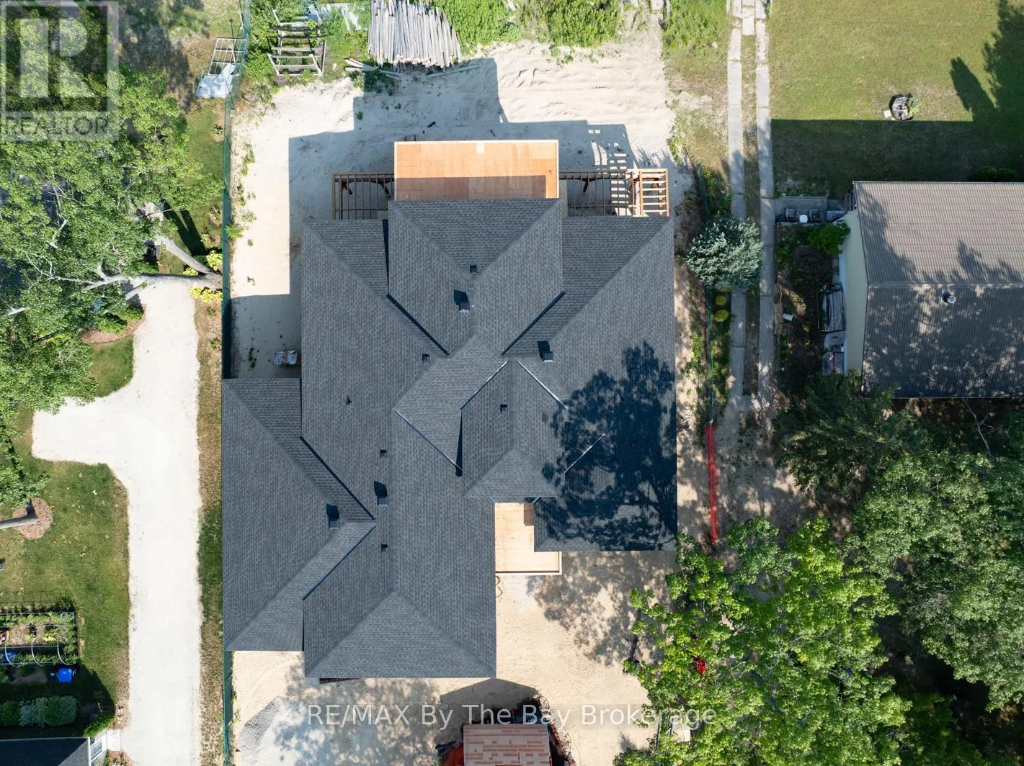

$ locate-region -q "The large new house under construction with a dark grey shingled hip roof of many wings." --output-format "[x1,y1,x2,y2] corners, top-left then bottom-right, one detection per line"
[220,140,677,680]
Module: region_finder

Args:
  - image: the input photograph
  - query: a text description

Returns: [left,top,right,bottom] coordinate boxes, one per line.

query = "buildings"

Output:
[0,733,106,766]
[841,179,1024,400]
[220,140,677,680]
